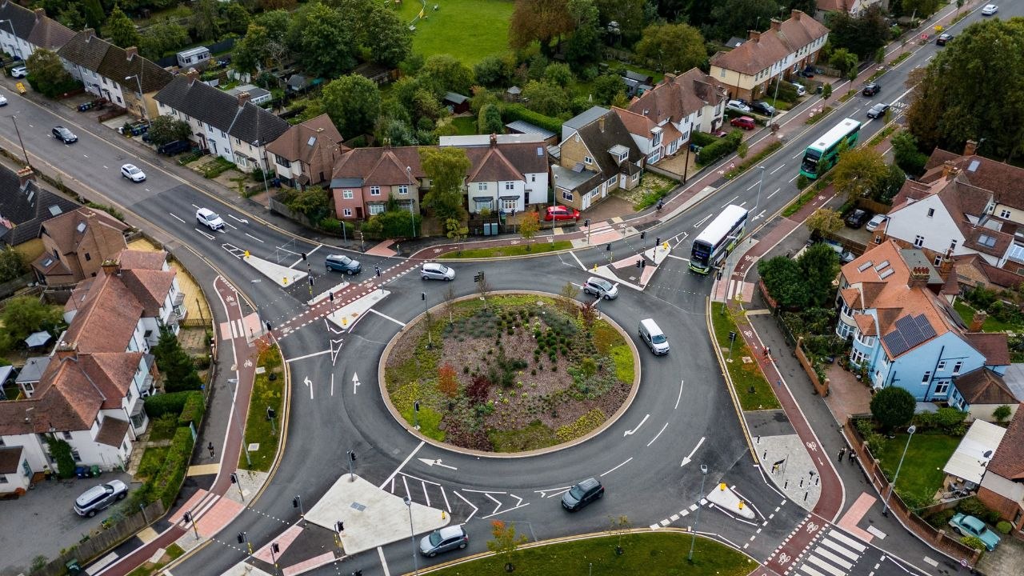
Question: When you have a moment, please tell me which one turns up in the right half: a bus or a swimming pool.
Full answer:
You can see a bus in the right half.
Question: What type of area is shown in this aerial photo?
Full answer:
This image shows a residential area.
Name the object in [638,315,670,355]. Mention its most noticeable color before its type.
white van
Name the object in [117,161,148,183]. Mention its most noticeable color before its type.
white car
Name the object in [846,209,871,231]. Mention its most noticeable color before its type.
black car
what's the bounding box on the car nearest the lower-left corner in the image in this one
[67,476,129,522]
